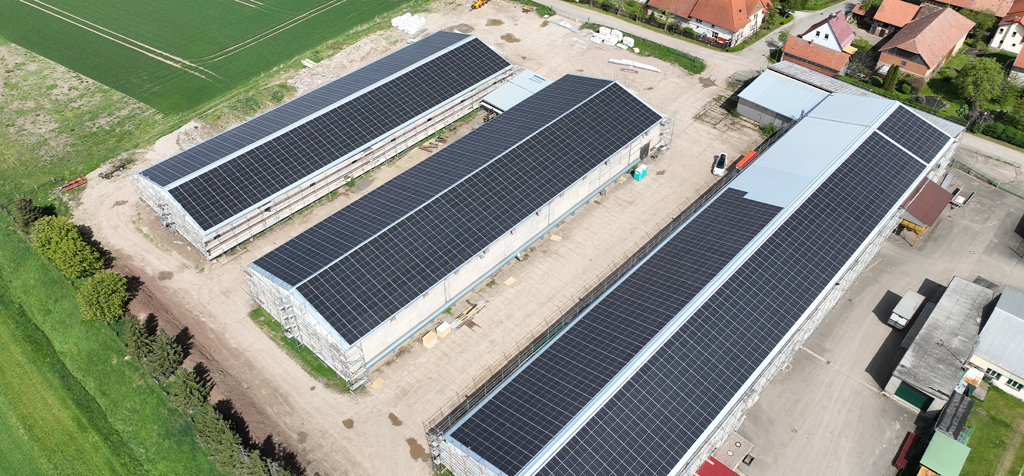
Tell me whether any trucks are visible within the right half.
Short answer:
Yes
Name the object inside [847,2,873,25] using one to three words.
shed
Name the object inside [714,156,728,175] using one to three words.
car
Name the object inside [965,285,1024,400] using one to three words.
building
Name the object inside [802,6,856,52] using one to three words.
house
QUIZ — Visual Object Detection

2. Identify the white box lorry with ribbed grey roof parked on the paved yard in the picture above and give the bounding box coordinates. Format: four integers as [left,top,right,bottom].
[878,287,924,338]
